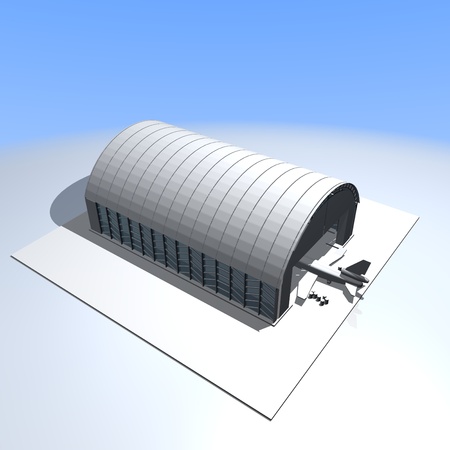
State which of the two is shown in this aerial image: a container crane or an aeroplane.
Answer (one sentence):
The image shows an aeroplane.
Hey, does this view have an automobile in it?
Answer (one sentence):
No, there isn't any automobile down there.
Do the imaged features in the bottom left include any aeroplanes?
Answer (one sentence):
No, there is no aeroplane in the bottom left.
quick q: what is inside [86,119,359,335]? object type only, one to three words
hangar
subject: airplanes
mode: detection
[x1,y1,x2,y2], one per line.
[300,247,371,304]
